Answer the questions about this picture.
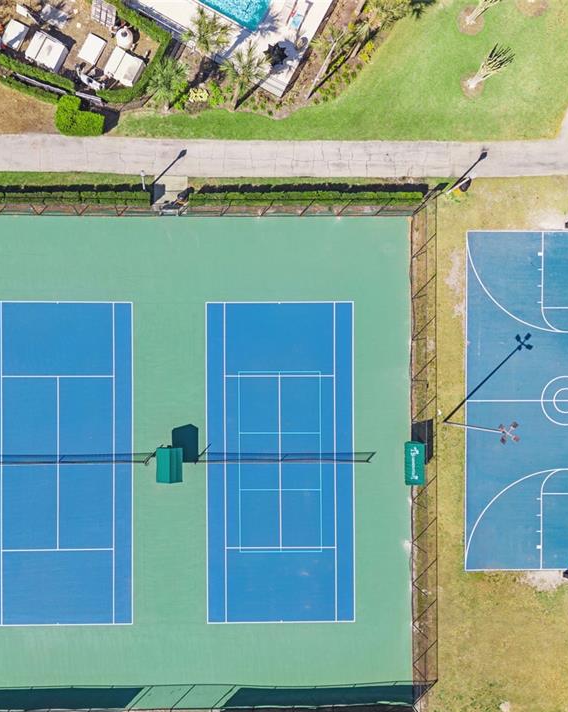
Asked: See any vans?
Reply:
No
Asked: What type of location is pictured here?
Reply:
sports ground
